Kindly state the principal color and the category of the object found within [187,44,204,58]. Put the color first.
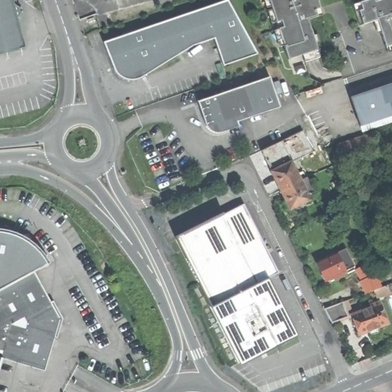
white vehicle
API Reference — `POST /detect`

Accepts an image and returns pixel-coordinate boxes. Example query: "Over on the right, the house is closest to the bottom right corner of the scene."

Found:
[348,302,390,336]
